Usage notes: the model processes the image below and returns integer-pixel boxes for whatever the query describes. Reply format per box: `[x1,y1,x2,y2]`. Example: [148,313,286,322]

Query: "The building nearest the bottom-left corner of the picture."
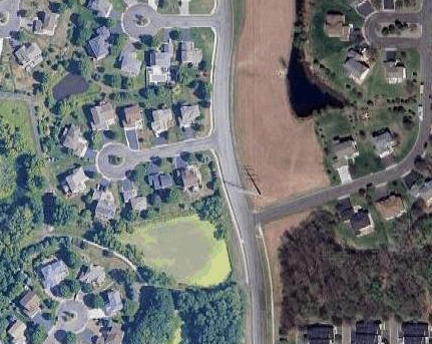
[6,320,30,344]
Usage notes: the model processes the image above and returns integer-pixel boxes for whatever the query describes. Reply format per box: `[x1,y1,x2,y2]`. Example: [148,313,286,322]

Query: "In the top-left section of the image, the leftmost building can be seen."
[18,42,44,69]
